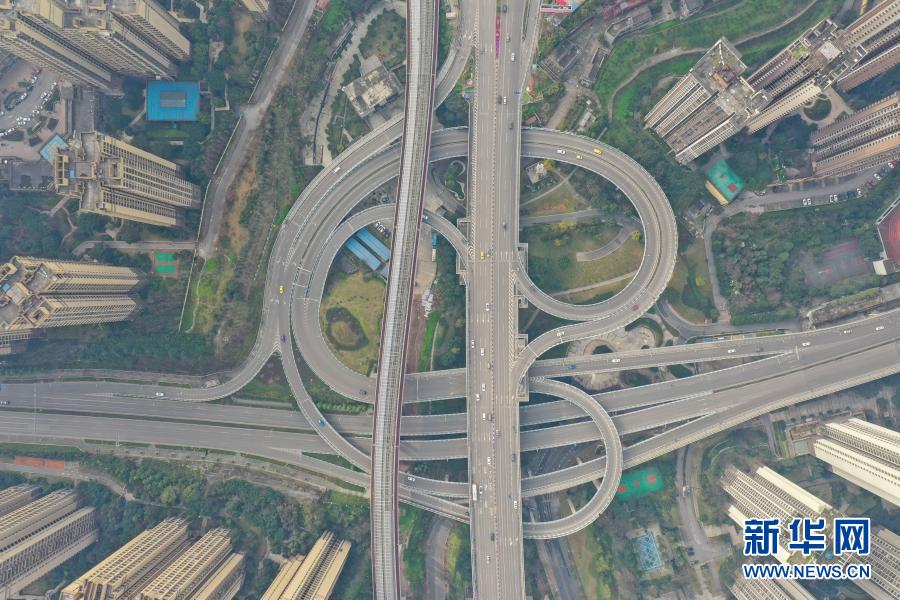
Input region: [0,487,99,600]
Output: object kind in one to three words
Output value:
building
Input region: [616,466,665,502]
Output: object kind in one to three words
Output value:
sports court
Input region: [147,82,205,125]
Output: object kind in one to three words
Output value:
building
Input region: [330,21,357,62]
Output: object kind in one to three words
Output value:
shed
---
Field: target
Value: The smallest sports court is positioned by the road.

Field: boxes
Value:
[152,250,178,277]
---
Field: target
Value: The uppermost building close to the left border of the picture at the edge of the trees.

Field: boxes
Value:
[0,0,190,90]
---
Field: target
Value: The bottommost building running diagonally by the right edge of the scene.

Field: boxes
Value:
[722,466,860,582]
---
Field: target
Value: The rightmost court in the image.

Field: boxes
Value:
[806,240,866,284]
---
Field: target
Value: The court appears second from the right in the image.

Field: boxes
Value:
[702,158,744,205]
